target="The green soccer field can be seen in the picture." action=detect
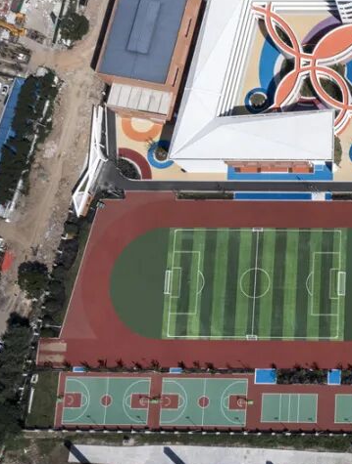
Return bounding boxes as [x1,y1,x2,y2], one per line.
[162,228,347,340]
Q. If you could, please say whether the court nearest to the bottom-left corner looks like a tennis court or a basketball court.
basketball court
